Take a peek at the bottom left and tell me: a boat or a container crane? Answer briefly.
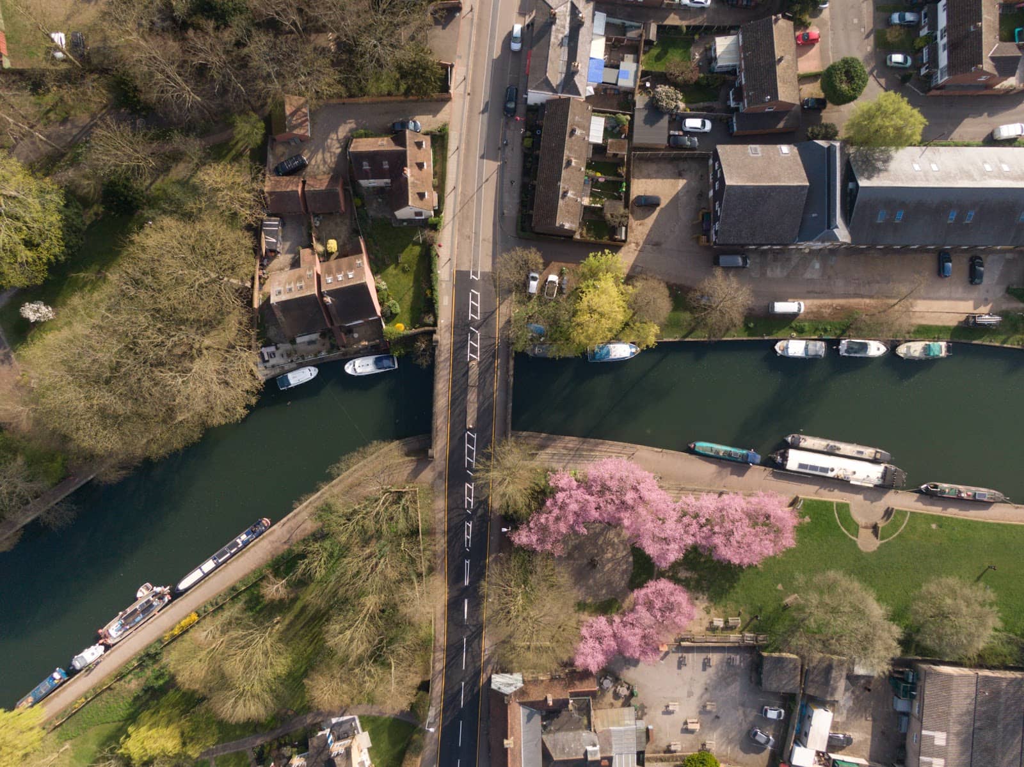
boat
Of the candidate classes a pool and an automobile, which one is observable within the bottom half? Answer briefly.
automobile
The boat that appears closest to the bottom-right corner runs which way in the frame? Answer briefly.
from side to side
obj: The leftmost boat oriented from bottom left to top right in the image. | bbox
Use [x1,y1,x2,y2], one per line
[19,666,72,701]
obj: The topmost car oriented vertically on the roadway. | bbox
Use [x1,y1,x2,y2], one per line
[509,22,523,52]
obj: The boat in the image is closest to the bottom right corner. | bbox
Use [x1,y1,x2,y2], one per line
[919,482,1006,503]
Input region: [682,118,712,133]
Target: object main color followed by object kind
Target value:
white car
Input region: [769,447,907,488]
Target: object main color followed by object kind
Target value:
white vessel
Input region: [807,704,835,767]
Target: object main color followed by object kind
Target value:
white truck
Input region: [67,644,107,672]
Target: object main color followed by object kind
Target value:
white boat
